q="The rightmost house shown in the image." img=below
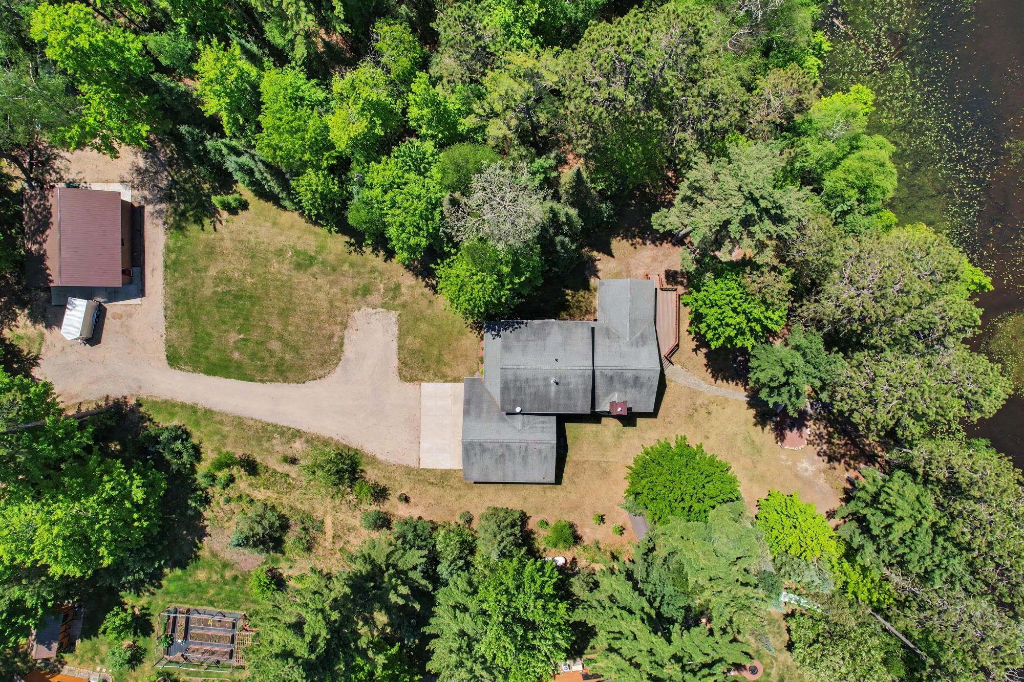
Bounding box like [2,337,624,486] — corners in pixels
[461,279,660,483]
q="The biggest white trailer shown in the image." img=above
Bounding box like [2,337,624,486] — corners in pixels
[60,297,104,351]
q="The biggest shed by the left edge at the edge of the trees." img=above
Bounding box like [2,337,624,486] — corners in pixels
[23,185,136,287]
